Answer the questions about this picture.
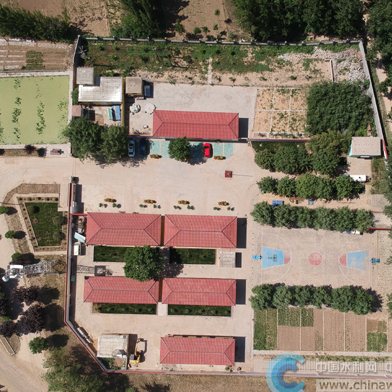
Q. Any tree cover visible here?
Yes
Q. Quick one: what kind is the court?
basketball court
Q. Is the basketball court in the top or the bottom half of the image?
bottom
